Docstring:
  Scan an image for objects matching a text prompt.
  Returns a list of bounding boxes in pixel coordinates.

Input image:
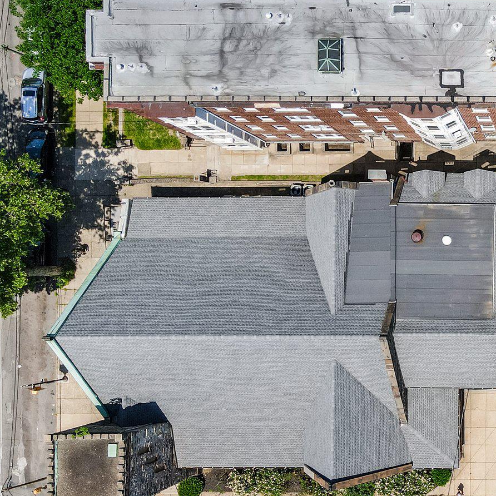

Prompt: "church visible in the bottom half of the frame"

[40,171,496,496]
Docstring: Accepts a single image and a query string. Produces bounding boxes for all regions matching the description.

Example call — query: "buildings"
[87,0,496,153]
[40,171,496,496]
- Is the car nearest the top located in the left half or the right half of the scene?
left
